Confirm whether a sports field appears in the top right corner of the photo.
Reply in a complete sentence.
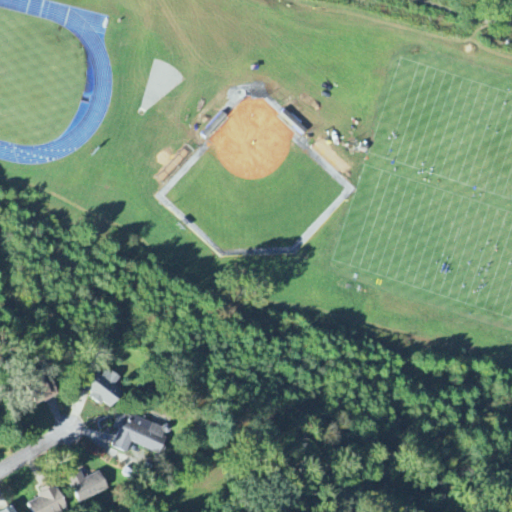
Yes, a sports field is visible in the top right corner of the photo.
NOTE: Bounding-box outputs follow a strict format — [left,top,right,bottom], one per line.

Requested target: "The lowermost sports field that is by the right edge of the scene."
[330,162,512,319]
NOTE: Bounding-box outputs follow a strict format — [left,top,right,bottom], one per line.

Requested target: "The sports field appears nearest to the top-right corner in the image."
[366,55,512,200]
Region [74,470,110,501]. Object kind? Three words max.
house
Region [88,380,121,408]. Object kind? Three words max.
house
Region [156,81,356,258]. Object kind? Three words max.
baseball field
